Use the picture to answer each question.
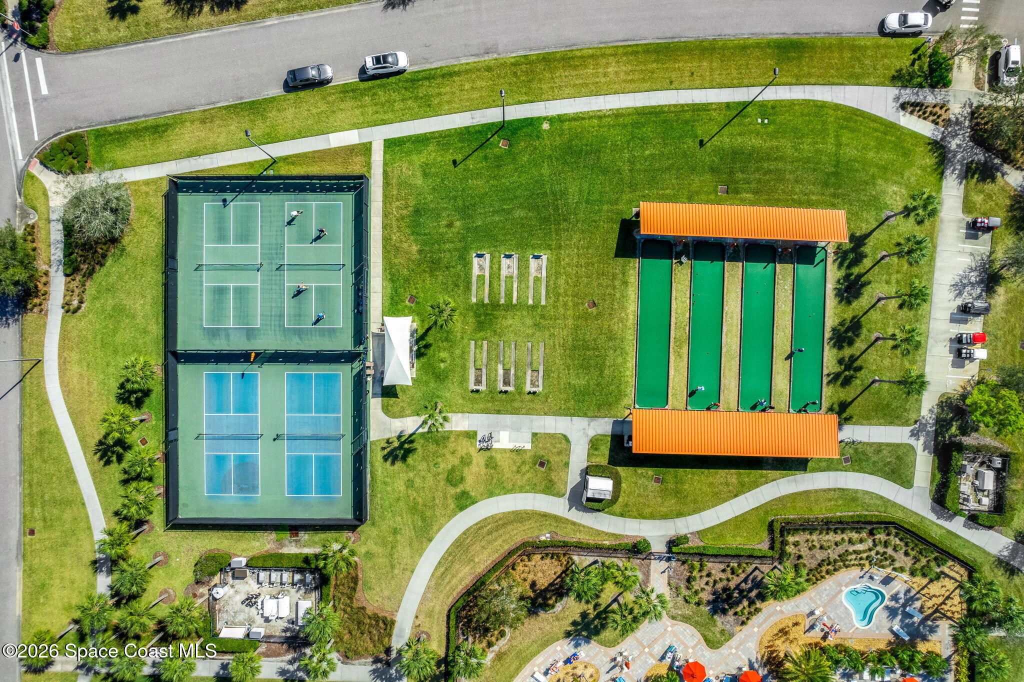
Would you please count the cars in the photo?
4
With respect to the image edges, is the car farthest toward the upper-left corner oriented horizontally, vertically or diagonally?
horizontally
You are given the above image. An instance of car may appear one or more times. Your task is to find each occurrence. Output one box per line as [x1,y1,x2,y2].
[884,12,930,35]
[364,51,409,77]
[287,64,333,88]
[995,42,1022,87]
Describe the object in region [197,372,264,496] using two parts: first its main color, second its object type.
blue sports court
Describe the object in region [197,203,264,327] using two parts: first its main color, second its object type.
green sports court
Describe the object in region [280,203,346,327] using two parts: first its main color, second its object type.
green sports court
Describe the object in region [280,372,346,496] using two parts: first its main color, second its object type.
blue sports court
